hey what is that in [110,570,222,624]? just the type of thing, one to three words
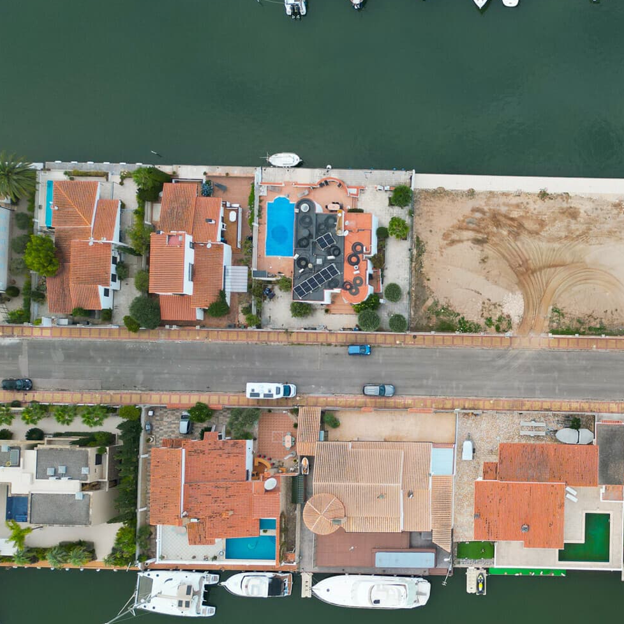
boat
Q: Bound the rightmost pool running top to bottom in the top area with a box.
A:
[265,195,295,257]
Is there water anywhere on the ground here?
Yes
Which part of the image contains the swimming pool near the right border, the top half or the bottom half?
bottom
